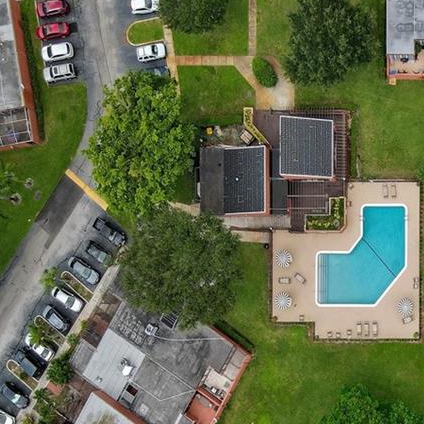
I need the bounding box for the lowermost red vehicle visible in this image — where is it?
[37,23,72,42]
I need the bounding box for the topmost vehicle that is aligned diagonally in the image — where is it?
[90,214,127,247]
